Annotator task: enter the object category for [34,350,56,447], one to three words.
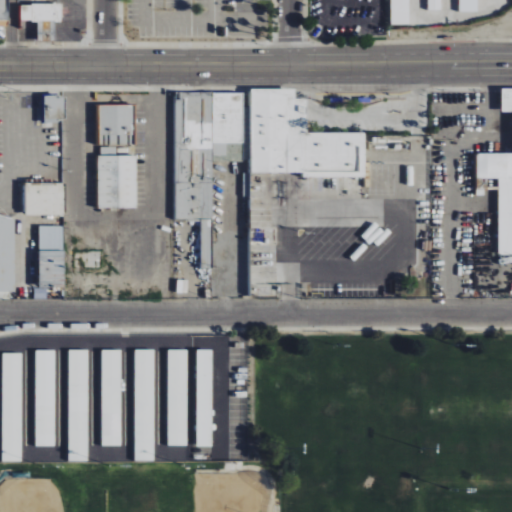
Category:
building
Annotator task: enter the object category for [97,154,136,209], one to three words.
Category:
building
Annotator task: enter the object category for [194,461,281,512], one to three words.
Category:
baseball field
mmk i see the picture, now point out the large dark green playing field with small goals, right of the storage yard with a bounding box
[252,335,512,512]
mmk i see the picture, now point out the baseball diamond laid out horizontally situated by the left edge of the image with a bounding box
[0,461,194,512]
